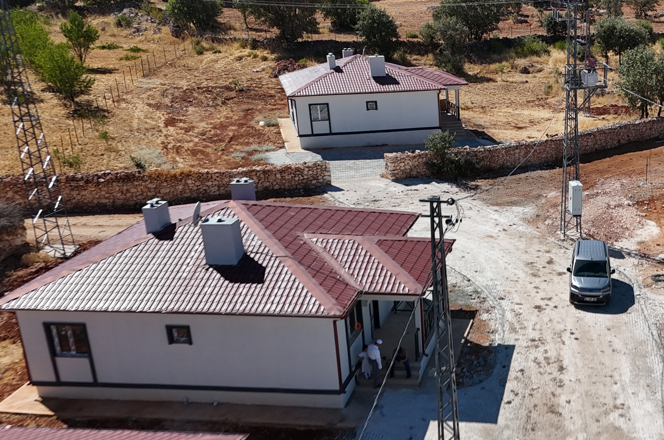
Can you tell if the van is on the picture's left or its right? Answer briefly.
right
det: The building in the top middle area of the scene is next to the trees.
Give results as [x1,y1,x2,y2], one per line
[278,45,469,153]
